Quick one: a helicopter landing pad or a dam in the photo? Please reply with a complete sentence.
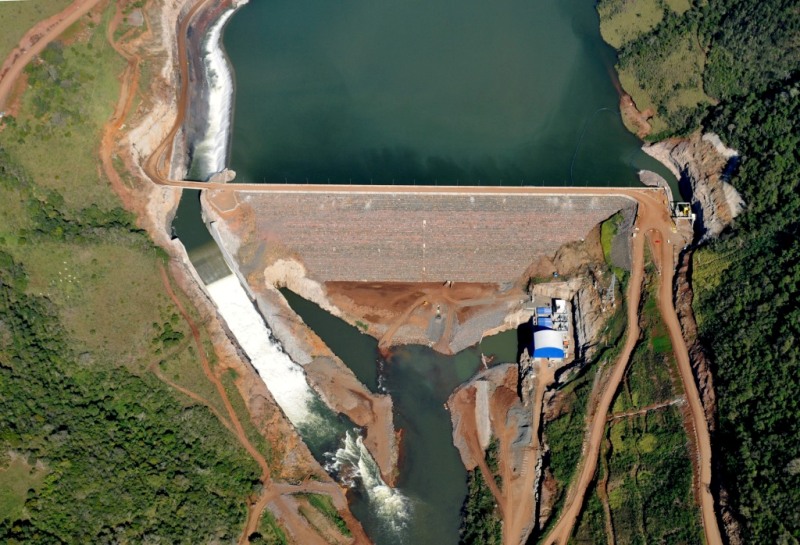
Of the two, only a dam appears.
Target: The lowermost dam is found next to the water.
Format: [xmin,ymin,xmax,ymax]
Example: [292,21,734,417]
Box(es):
[206,183,668,283]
